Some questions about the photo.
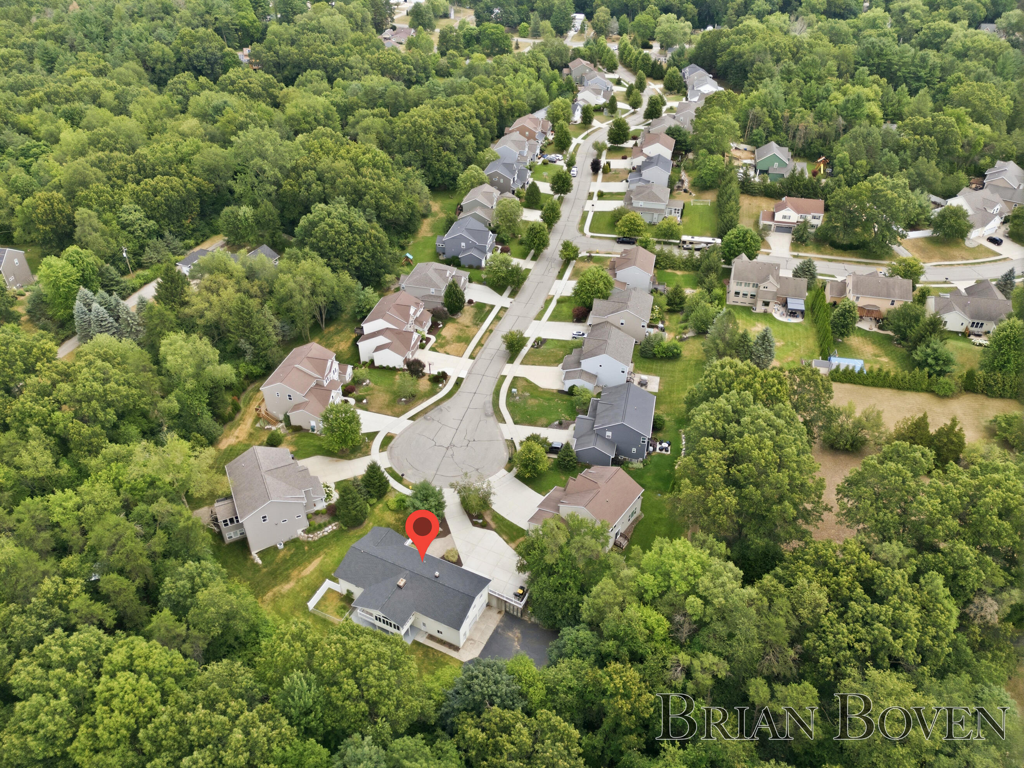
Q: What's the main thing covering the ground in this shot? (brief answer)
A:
trees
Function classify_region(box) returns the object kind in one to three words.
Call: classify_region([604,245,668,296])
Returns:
house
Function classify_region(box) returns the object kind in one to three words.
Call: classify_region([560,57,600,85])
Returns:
house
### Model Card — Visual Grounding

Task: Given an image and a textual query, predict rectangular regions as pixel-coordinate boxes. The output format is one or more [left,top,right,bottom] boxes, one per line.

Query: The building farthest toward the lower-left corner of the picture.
[214,444,327,553]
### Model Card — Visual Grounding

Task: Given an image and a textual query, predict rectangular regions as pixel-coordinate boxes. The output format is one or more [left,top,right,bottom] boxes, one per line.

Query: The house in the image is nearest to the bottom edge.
[333,528,493,647]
